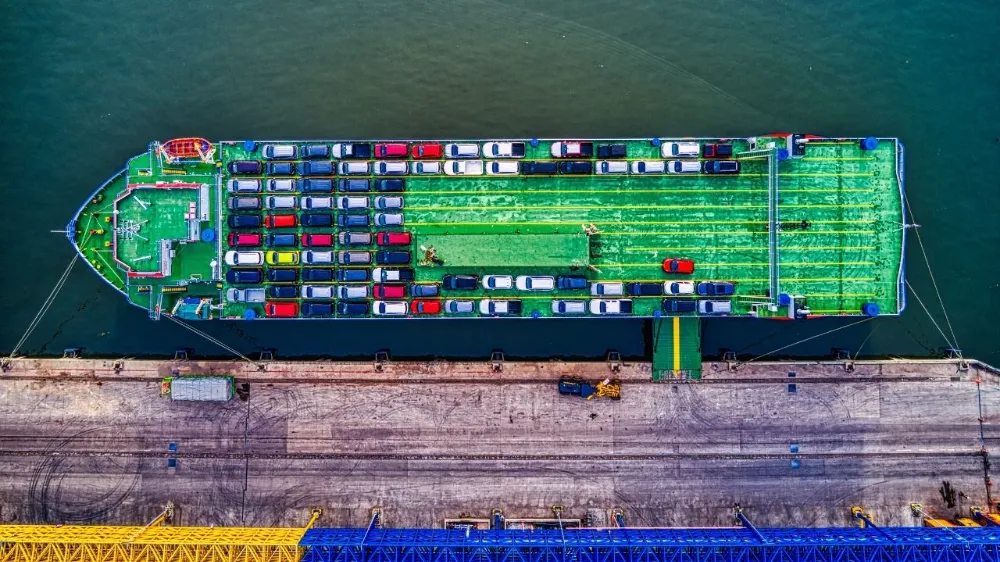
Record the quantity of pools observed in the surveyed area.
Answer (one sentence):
No pools are visible.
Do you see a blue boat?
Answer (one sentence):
Yes, there's a blue boat down there.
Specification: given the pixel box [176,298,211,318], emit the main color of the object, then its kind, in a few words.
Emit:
blue boat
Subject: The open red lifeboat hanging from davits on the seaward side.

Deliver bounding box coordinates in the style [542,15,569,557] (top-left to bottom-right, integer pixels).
[162,139,214,159]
